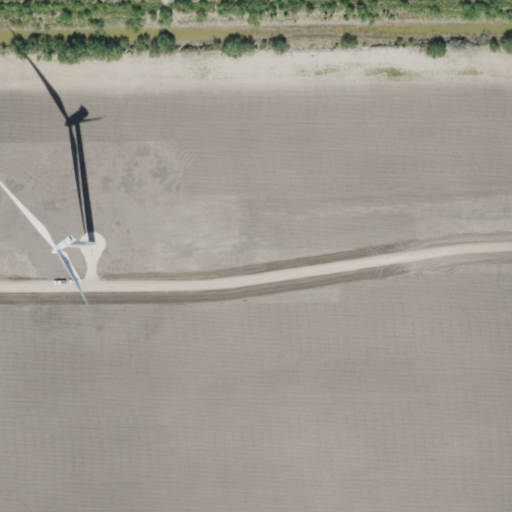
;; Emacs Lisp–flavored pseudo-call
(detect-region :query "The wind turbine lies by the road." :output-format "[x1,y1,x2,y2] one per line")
[0,178,97,305]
